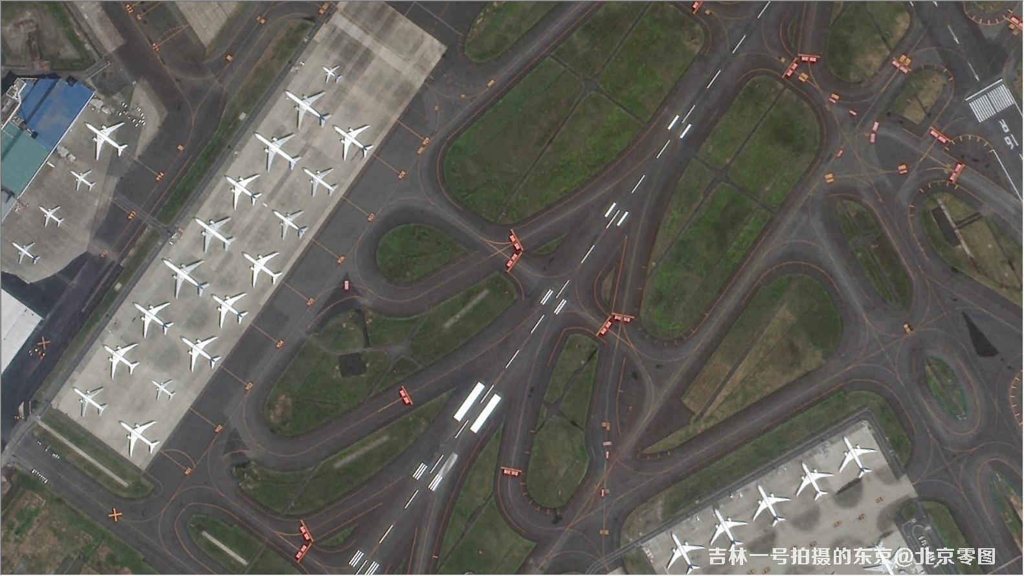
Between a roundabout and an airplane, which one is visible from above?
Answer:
airplane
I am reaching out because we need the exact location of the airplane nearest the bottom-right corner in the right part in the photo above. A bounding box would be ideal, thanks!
[865,537,905,576]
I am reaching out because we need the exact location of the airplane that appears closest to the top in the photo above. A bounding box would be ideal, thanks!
[322,66,342,82]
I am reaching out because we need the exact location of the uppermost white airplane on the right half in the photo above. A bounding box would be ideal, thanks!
[840,437,877,479]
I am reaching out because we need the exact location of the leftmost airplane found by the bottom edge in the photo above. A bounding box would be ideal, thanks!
[668,534,704,576]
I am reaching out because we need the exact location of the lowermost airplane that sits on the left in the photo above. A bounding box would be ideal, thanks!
[120,422,160,456]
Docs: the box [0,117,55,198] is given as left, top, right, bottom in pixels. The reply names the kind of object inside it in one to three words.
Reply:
hangar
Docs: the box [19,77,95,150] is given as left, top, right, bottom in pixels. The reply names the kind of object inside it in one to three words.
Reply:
hangar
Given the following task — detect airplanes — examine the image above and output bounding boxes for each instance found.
[754,486,790,528]
[120,422,160,456]
[134,303,173,336]
[162,259,208,296]
[255,133,301,170]
[86,123,127,158]
[39,205,64,226]
[103,344,140,377]
[865,537,905,576]
[195,217,235,252]
[303,167,337,195]
[797,463,834,502]
[242,252,282,287]
[151,379,176,401]
[322,66,342,82]
[712,510,747,551]
[285,90,330,128]
[70,170,96,191]
[333,124,373,160]
[73,387,107,415]
[181,337,221,371]
[212,293,248,326]
[668,534,704,576]
[273,211,307,238]
[225,174,261,208]
[840,437,877,479]
[13,242,39,263]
